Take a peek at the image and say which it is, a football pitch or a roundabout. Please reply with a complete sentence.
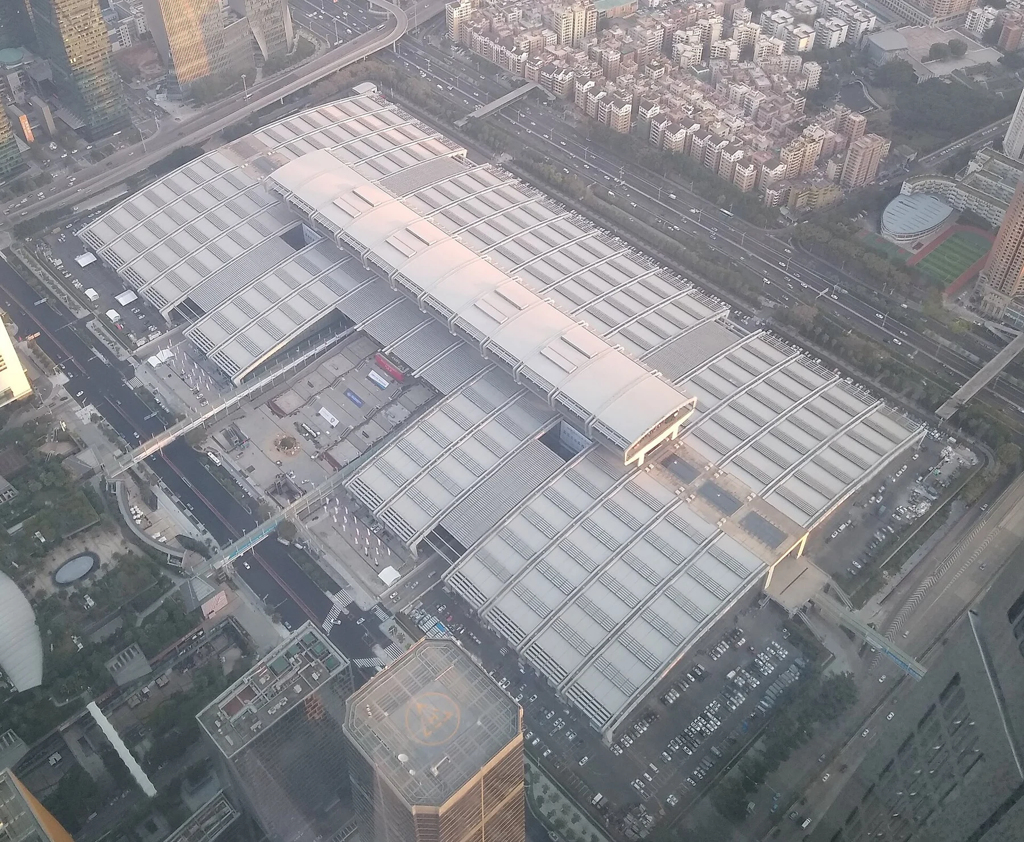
The image shows a football pitch.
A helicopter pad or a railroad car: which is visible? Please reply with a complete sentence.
This aerial view contains a helicopter pad.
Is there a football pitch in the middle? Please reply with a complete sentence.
No, I can find no football pitch in the middle.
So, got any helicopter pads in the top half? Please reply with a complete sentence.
No, no helicopter pad is visible in the top half.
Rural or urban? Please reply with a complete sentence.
The area shown here is urban.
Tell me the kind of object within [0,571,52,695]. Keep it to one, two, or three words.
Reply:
building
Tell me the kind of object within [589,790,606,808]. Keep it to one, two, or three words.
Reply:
vehicle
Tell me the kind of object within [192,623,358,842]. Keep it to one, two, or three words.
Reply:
building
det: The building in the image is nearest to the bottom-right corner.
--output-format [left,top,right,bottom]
[829,570,1024,842]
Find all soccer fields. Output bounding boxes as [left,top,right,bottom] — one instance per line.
[915,228,999,285]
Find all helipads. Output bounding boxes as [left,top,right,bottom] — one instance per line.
[390,680,471,759]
